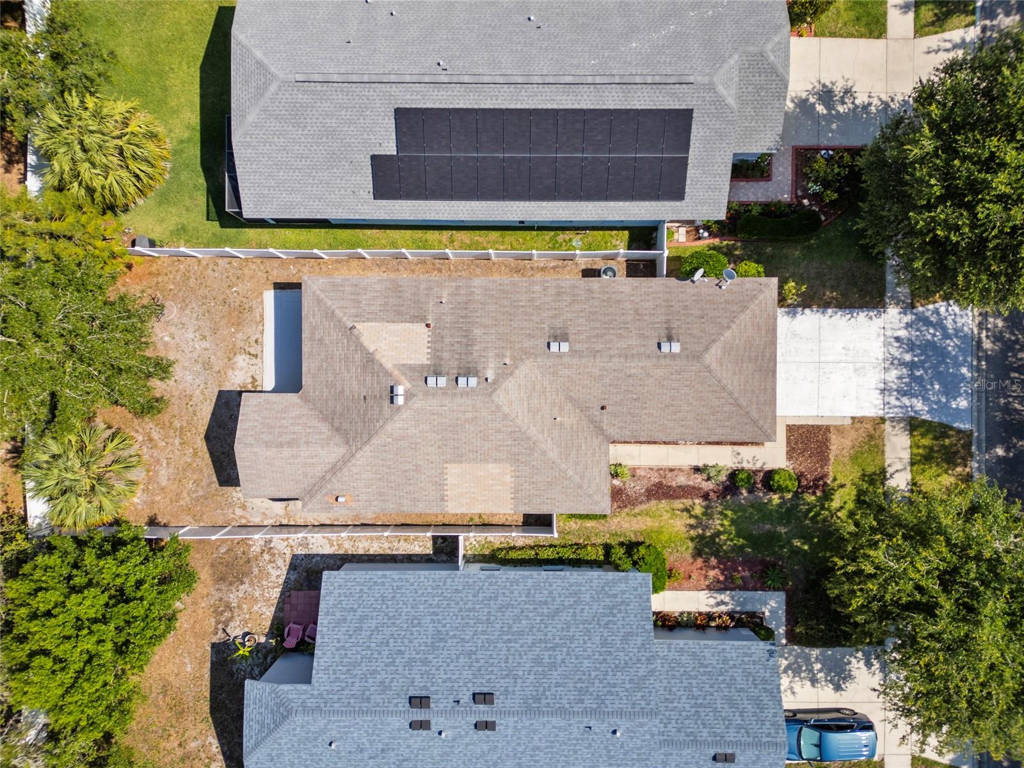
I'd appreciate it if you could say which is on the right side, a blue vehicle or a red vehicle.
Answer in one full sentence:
Looking on the right side, you will find a blue vehicle.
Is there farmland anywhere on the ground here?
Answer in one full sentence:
No, the picture contains no farmland.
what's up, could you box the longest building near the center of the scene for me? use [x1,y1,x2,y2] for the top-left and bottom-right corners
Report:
[232,275,779,515]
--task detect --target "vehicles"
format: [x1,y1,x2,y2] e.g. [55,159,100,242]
[785,708,877,766]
